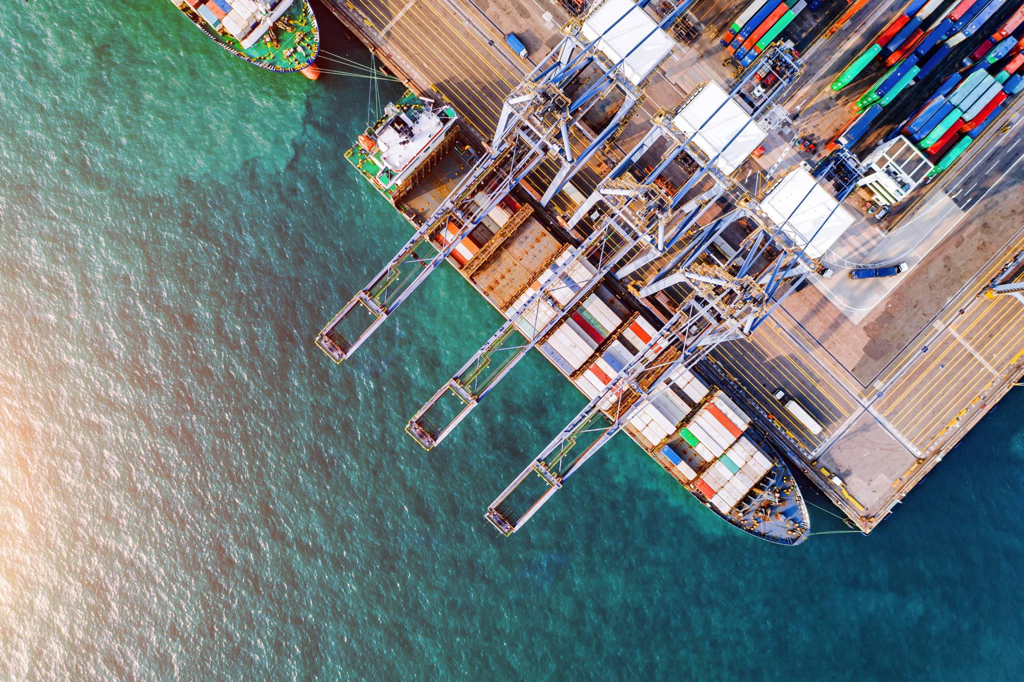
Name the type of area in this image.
port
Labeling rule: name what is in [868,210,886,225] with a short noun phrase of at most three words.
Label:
car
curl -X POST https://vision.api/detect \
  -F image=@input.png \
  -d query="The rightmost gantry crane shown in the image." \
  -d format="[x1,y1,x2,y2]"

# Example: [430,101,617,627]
[971,249,1024,306]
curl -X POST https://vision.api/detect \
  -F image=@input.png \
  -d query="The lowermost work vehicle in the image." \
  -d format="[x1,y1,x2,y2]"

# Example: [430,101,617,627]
[825,470,846,490]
